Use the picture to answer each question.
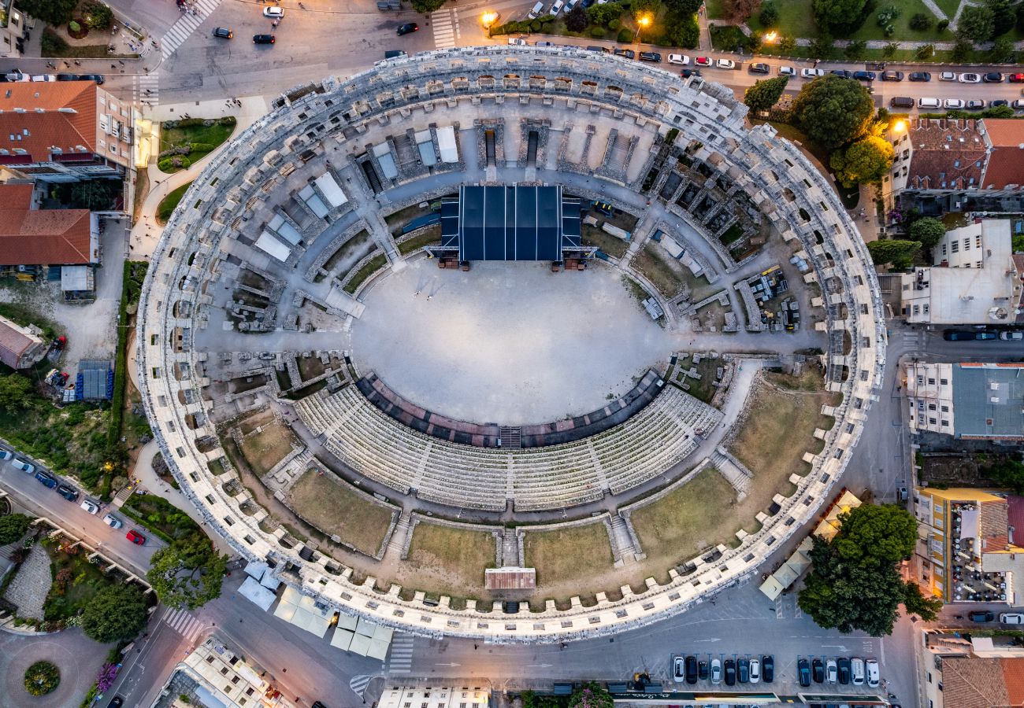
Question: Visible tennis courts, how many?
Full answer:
No tennis courts are visible.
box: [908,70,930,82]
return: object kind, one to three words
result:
vehicle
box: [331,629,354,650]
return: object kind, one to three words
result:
tent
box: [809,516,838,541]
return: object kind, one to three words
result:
tent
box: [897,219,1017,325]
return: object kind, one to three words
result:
house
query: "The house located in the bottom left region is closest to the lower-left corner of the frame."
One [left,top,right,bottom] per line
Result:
[150,638,263,708]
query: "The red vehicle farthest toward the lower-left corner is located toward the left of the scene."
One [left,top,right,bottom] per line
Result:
[125,528,147,545]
